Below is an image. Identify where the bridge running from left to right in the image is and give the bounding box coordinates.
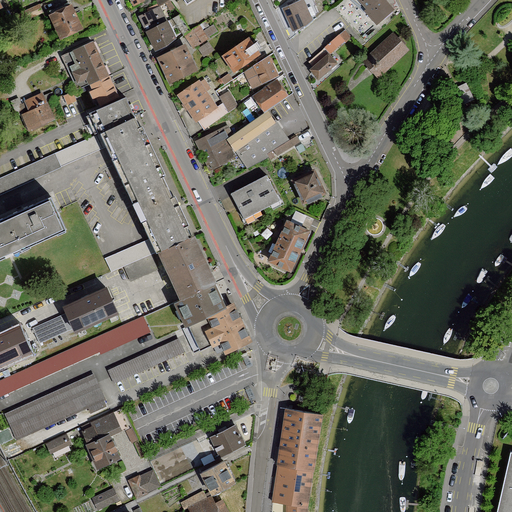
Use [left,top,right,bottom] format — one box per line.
[328,328,473,406]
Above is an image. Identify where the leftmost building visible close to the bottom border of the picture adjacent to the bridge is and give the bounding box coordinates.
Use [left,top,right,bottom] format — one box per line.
[272,409,323,512]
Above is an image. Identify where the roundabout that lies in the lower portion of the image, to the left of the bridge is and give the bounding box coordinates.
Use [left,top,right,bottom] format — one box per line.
[253,292,326,365]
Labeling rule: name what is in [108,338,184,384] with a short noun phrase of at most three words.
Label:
shed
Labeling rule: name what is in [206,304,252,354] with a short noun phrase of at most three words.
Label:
building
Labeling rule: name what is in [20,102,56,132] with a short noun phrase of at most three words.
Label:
house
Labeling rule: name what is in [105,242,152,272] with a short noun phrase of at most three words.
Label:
building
